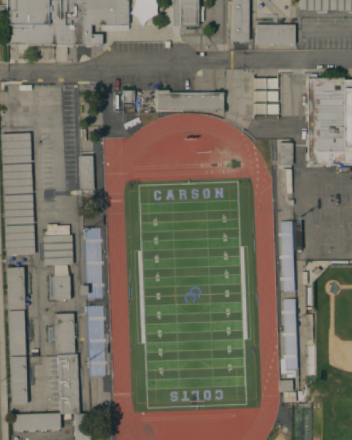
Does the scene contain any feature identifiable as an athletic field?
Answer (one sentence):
Yes, the photo shows an athletic field.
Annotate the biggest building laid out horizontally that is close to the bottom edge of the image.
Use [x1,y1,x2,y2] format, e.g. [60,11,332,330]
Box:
[14,414,62,431]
